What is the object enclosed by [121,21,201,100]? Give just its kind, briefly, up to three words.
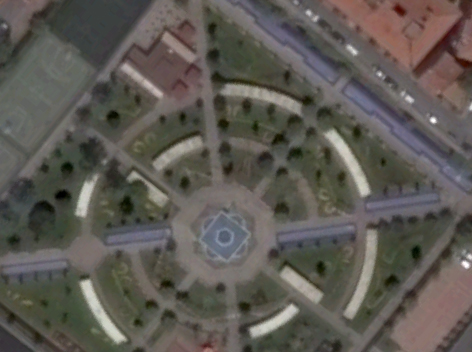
house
